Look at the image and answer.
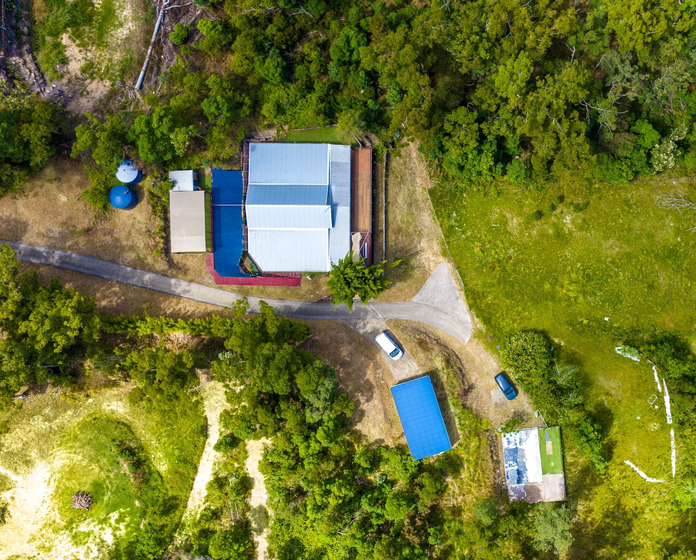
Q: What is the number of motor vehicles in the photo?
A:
two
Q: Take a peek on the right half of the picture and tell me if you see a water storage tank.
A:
No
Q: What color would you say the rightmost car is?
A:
blue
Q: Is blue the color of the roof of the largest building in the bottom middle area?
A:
Yes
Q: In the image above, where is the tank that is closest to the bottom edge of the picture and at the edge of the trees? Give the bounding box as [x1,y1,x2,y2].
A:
[109,186,140,210]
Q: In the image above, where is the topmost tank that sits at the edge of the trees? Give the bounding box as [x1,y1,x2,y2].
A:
[116,160,147,187]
